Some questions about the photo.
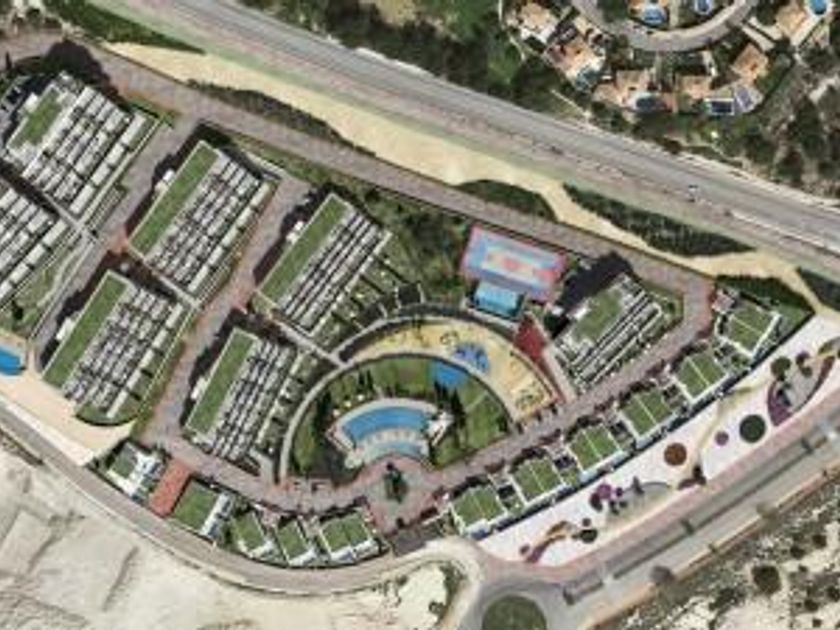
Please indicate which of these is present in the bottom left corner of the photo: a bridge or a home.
home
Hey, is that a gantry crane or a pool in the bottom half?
pool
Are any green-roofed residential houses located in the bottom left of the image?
Yes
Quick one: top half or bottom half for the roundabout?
bottom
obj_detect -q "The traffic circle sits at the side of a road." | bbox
[457,571,571,630]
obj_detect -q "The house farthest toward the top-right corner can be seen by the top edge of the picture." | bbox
[769,2,818,48]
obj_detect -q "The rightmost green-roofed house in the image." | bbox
[717,291,787,361]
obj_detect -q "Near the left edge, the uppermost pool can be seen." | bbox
[0,342,26,377]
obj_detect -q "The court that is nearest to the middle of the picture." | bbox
[472,281,524,319]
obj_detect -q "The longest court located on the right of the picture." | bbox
[459,223,566,303]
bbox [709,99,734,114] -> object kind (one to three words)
swimming pool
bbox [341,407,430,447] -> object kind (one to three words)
swimming pool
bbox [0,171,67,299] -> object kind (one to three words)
building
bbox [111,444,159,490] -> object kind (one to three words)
house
